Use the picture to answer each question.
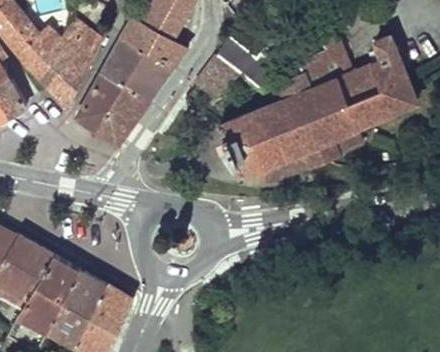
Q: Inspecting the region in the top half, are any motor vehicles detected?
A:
Yes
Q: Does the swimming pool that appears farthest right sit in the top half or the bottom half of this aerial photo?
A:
top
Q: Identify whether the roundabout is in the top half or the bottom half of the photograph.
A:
bottom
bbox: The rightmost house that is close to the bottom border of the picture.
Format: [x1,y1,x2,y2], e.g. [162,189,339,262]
[78,286,134,352]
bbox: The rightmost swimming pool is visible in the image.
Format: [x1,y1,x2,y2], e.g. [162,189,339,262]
[32,0,69,26]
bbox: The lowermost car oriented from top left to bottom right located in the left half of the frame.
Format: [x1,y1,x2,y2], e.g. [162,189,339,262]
[8,120,30,138]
